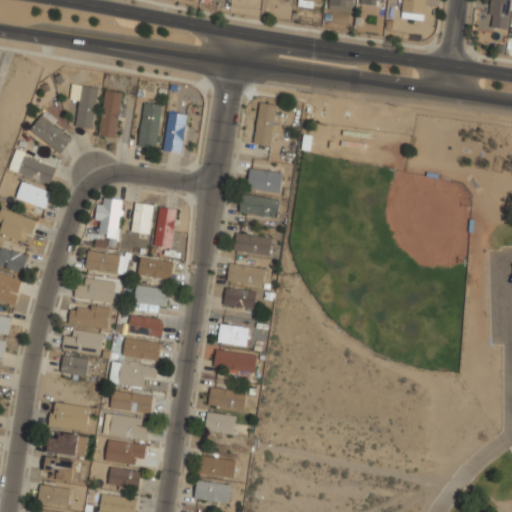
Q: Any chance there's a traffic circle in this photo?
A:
No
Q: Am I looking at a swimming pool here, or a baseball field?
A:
baseball field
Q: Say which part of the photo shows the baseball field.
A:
right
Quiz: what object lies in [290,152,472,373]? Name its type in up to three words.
baseball field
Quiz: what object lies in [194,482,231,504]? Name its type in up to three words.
house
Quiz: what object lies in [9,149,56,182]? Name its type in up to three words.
house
